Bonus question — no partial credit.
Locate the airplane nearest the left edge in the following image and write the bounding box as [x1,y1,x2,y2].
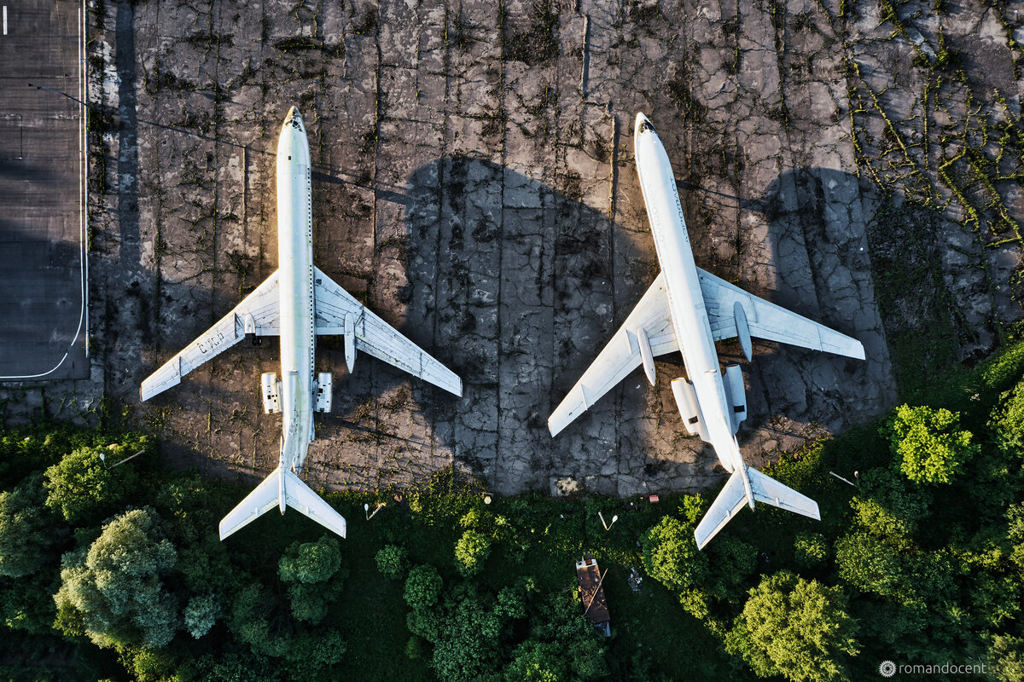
[141,107,461,540]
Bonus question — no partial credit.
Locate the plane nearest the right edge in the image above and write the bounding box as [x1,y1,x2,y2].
[551,114,864,548]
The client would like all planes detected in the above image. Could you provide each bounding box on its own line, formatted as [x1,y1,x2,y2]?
[551,114,864,548]
[141,107,461,540]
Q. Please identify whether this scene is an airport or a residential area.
airport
